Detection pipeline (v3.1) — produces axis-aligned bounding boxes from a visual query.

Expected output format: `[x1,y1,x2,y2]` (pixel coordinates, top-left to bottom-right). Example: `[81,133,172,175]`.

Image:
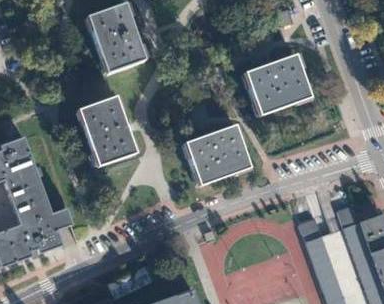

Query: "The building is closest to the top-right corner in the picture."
[242,54,314,115]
